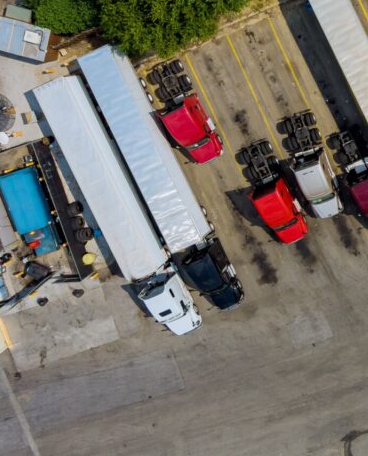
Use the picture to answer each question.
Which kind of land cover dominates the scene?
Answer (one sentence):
The bulk of the photo consists of paved ground.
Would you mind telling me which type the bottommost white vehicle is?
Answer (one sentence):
From above, the bottommost white vehicle can be identified as a truck.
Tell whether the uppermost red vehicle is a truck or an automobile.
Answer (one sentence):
Looking closely, the uppermost red vehicle is a truck.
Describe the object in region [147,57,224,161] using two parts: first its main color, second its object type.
red truck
